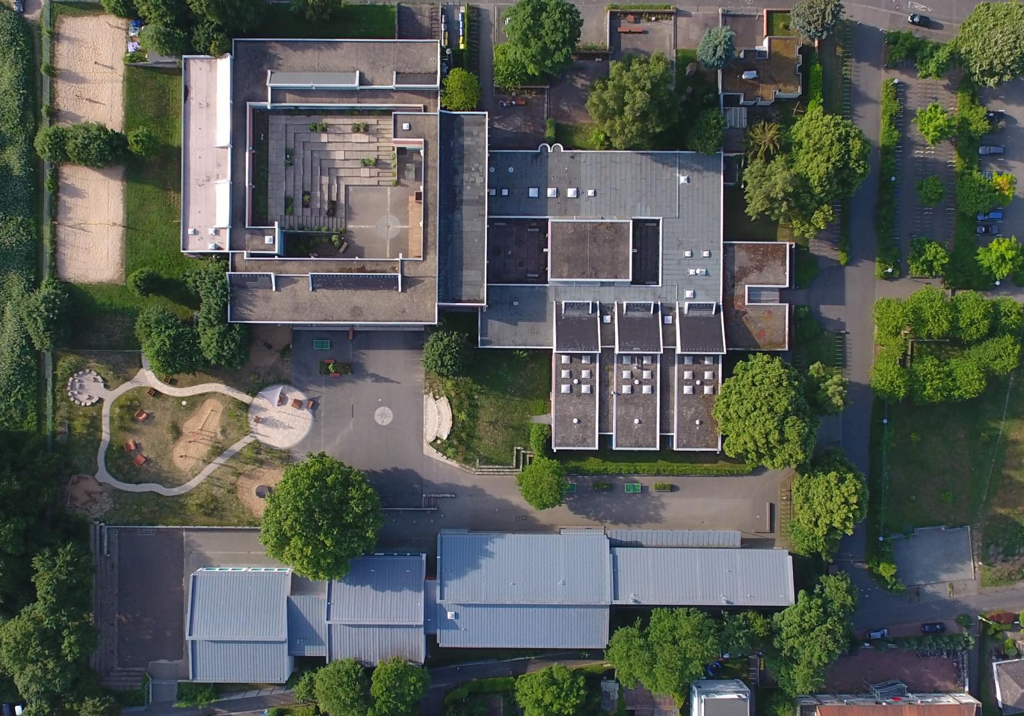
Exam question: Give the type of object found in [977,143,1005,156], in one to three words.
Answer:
vehicle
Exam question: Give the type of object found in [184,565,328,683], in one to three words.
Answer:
building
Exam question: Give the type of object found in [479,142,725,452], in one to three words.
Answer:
building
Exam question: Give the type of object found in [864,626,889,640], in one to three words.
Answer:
car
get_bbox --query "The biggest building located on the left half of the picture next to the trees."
[181,38,488,330]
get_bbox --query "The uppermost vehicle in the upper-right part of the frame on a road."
[905,13,932,28]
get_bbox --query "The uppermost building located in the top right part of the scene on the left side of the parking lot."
[714,35,802,131]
